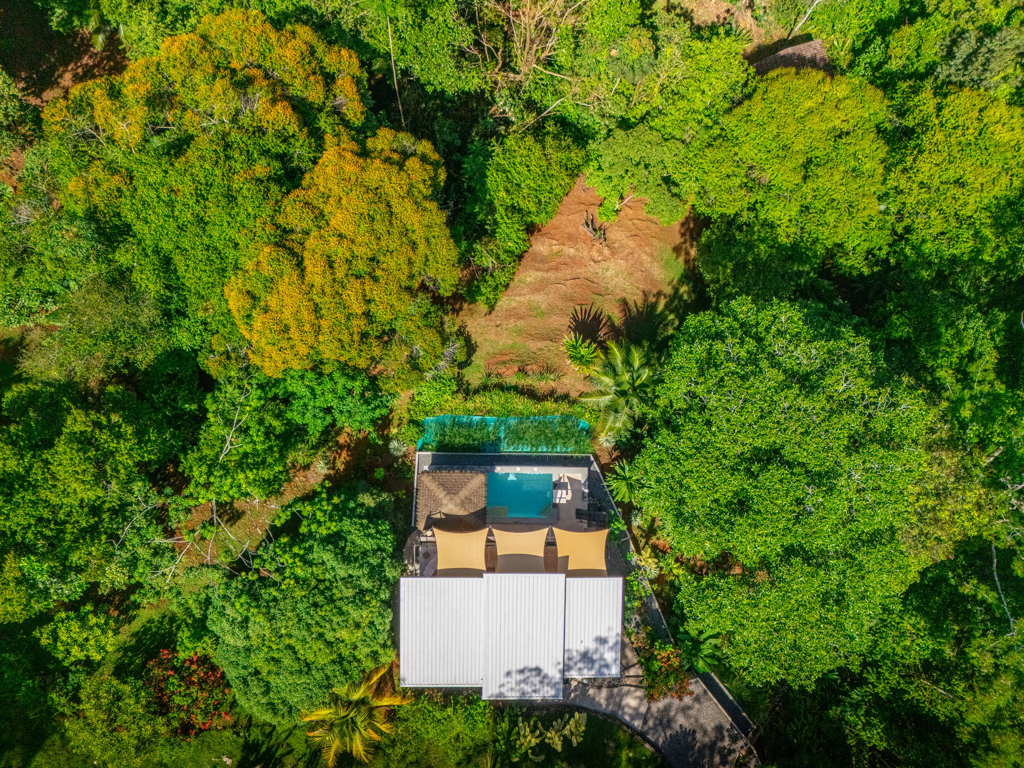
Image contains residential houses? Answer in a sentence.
Yes, the picture does show a residential house.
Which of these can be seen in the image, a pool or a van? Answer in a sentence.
Of the two, only a pool appears.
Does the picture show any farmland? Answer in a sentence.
No, the scene doesn't show any farmland.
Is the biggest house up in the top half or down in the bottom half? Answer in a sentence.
The bottom half of the photo is where the biggest house is.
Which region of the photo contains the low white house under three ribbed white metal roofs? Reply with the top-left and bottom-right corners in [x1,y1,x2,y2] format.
[399,573,623,700]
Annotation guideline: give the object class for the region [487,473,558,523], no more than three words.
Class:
swimming pool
